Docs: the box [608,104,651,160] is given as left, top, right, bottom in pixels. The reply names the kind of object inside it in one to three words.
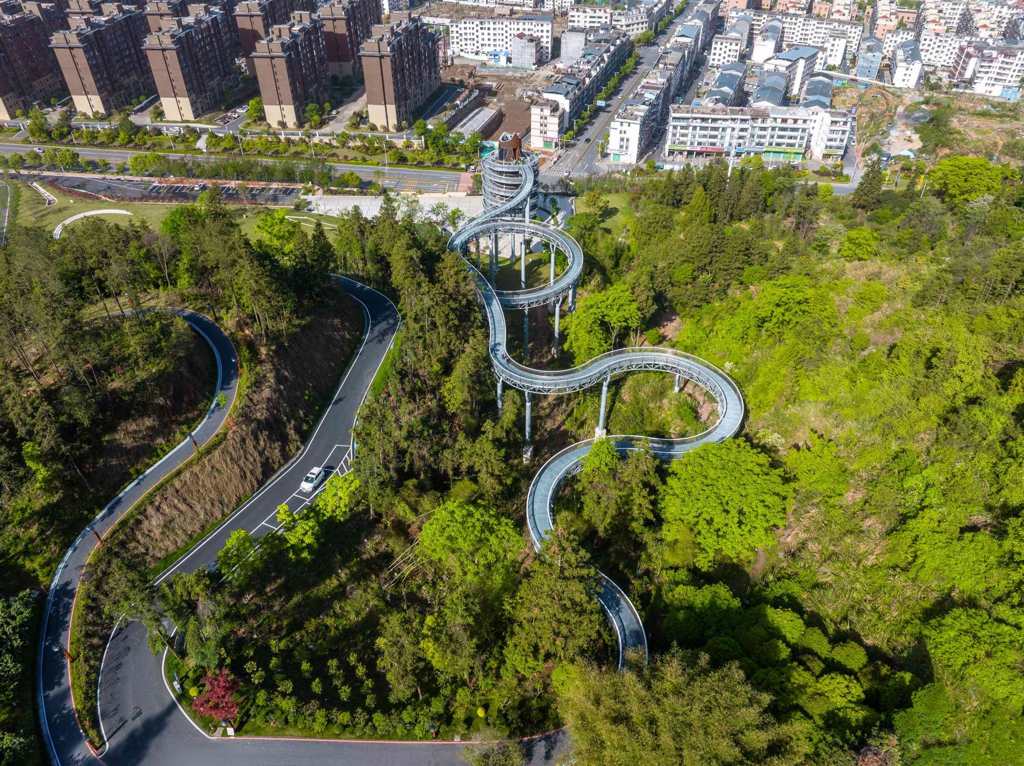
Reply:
building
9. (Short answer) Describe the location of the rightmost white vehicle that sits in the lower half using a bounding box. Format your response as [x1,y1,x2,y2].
[298,463,327,491]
